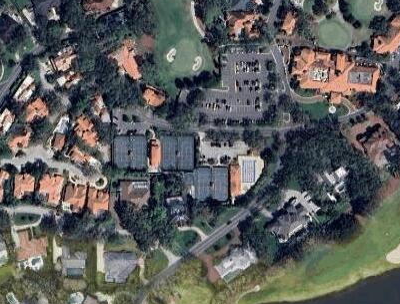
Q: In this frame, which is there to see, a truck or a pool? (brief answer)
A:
pool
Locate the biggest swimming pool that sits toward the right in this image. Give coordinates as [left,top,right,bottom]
[238,155,263,195]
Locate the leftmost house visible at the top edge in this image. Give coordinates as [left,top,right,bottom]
[0,8,37,50]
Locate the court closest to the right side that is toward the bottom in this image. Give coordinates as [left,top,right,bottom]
[211,166,228,199]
